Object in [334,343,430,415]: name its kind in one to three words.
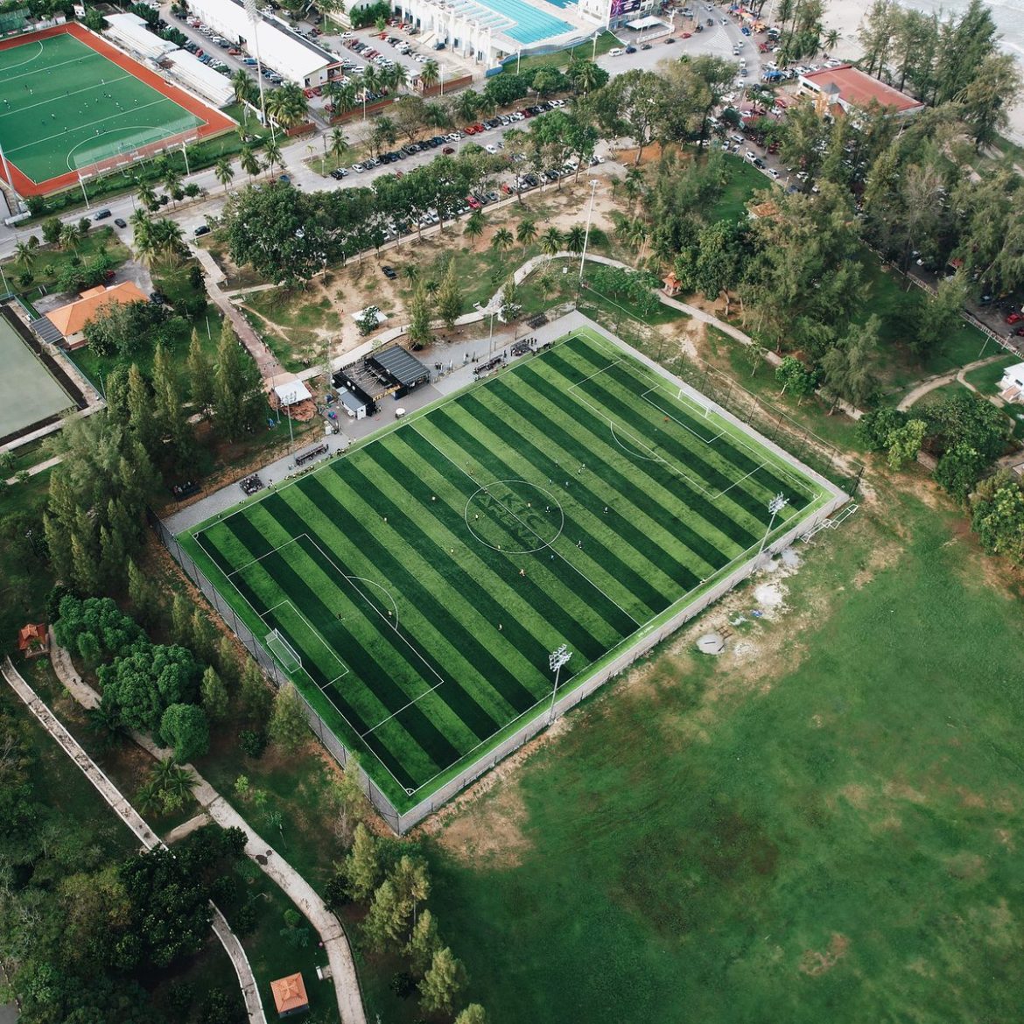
building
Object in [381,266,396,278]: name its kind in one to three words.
vehicle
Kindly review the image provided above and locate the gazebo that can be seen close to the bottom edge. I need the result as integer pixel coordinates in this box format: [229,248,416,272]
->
[270,974,310,1024]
